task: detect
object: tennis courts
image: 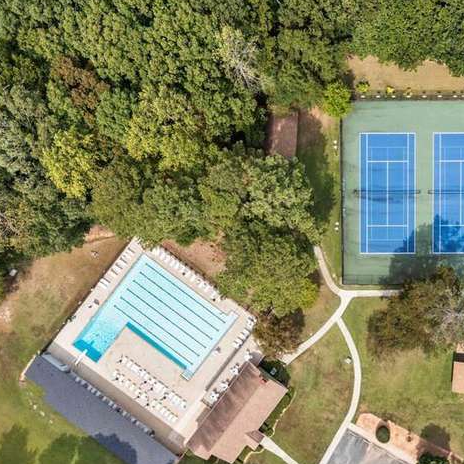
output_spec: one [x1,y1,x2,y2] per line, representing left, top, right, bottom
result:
[424,99,464,284]
[341,99,425,284]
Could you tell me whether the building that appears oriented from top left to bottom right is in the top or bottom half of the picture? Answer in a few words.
bottom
